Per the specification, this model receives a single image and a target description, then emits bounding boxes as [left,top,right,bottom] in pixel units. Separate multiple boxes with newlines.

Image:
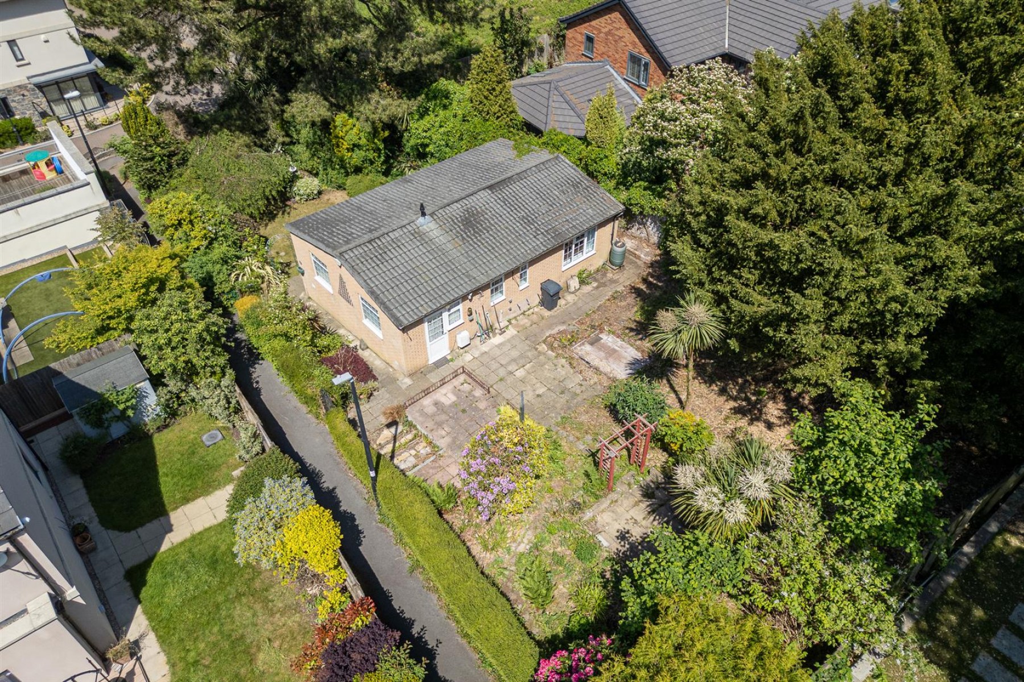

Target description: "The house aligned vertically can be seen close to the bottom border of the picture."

[0,415,114,682]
